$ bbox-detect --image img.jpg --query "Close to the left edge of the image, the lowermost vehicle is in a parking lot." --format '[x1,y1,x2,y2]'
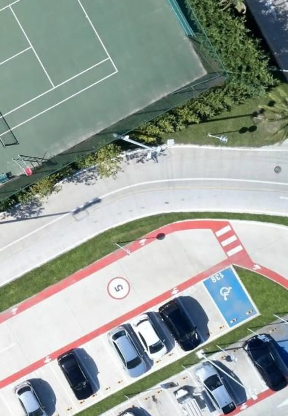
[12,377,48,416]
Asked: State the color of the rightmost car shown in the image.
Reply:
black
